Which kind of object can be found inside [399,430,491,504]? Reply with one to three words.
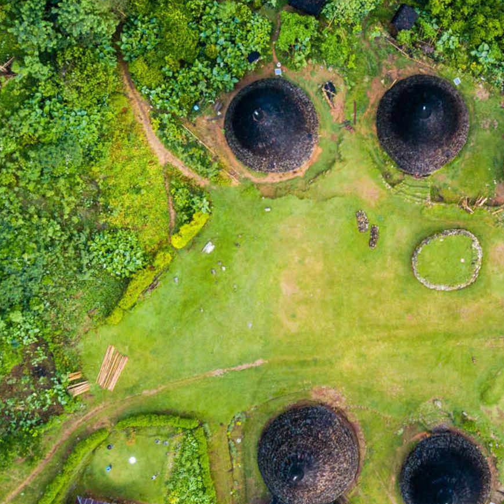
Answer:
house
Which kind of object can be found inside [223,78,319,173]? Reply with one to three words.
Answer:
house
